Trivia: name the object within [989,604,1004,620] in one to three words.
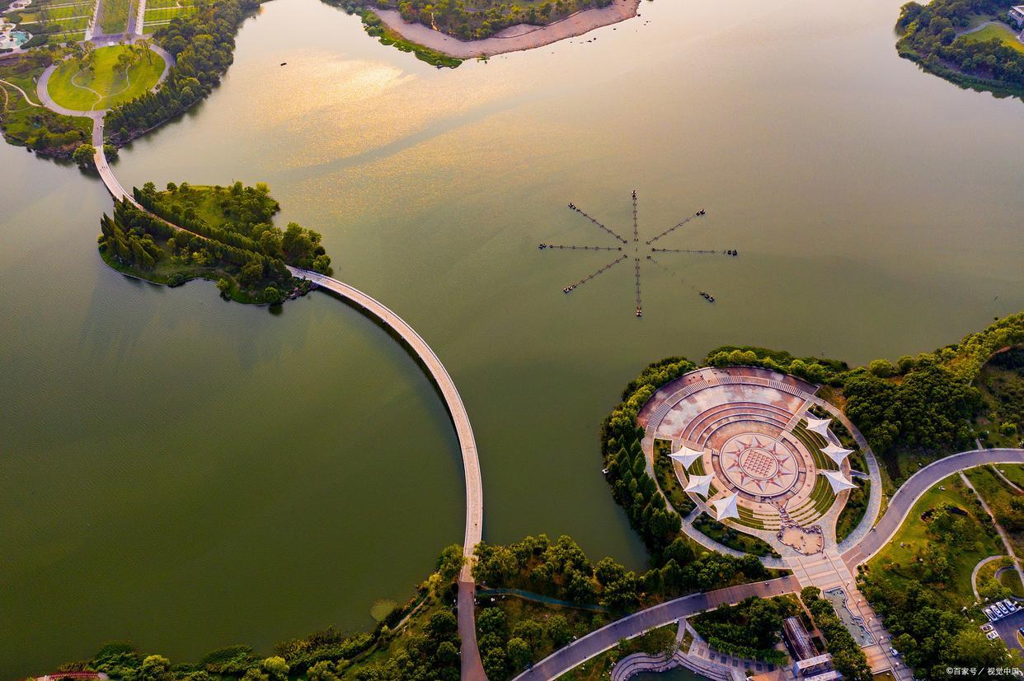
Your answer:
car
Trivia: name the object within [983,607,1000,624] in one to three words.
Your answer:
car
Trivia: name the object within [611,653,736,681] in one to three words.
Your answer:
pond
